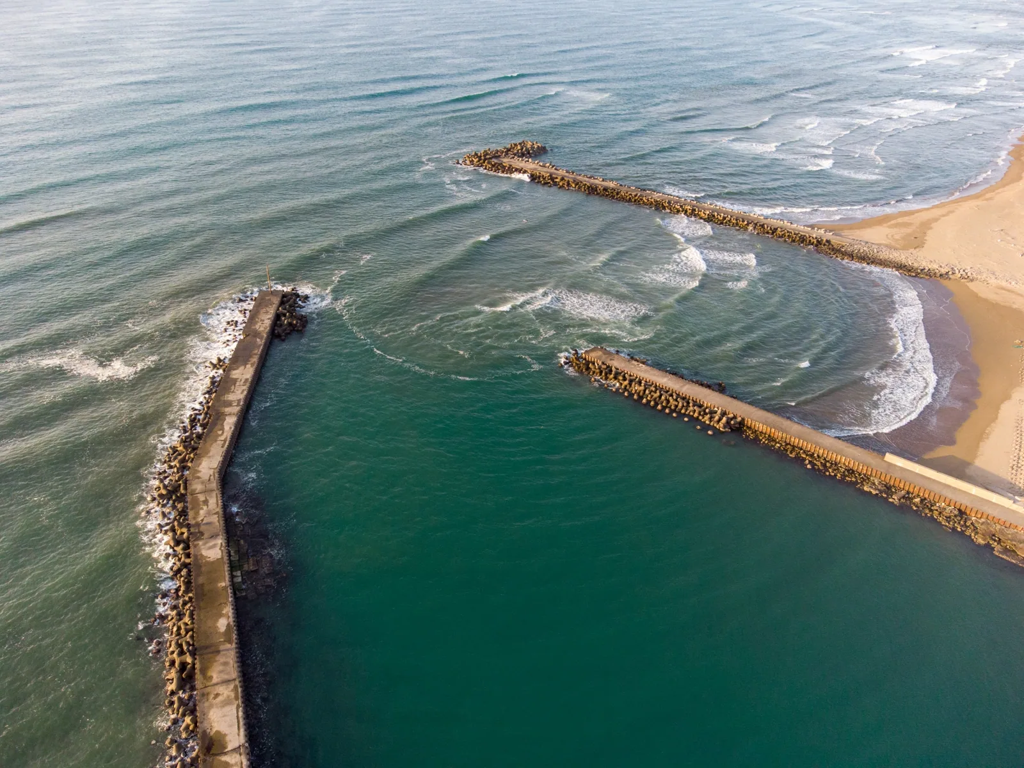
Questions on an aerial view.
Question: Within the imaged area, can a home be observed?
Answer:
No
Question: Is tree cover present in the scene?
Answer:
No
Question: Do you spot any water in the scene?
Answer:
Yes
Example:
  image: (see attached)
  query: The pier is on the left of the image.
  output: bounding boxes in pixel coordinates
[187,290,283,768]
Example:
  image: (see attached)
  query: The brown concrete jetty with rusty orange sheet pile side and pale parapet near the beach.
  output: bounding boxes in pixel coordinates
[582,348,1024,532]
